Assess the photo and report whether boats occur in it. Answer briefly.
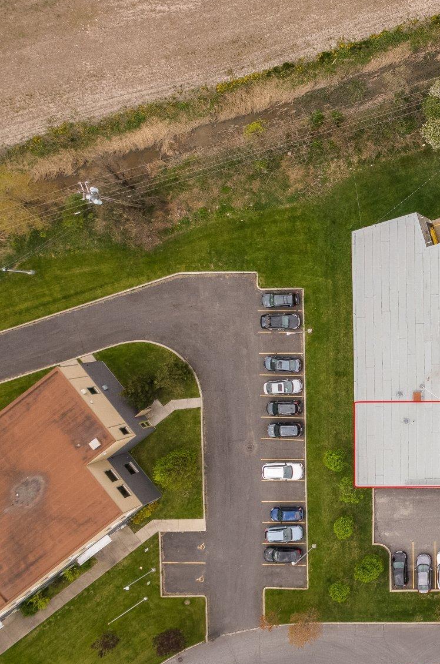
No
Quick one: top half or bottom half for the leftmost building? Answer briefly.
bottom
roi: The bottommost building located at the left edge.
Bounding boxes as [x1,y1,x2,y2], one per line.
[0,364,158,619]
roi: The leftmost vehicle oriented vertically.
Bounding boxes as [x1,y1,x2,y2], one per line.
[391,550,409,587]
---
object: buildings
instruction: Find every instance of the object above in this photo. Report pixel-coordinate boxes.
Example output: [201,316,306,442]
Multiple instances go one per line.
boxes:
[352,213,440,488]
[0,364,158,619]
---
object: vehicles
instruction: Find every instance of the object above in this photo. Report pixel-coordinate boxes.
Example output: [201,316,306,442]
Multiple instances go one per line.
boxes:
[268,422,303,439]
[260,312,301,331]
[261,291,300,309]
[415,554,432,593]
[265,526,304,543]
[265,546,302,564]
[391,550,409,587]
[434,549,440,591]
[264,378,303,396]
[264,356,302,373]
[260,462,304,482]
[267,399,302,417]
[271,505,304,523]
